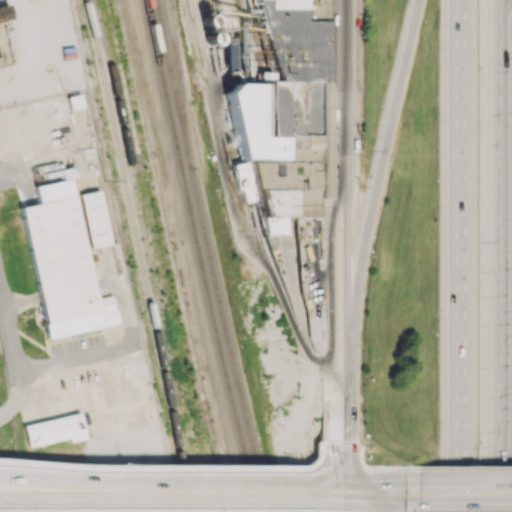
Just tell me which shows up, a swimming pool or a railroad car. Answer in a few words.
railroad car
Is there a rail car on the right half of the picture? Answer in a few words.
No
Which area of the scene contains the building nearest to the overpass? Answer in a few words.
bottom left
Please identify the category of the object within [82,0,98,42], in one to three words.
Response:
rail car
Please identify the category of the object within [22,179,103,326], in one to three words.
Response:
building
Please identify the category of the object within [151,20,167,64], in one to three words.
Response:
rail car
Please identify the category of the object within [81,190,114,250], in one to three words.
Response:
shed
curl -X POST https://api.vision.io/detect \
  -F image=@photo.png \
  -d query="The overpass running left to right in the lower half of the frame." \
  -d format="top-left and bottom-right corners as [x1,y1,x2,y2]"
[0,447,512,512]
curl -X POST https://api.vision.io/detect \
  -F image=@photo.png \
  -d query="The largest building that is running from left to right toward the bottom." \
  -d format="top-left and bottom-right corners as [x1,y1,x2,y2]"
[24,413,89,449]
